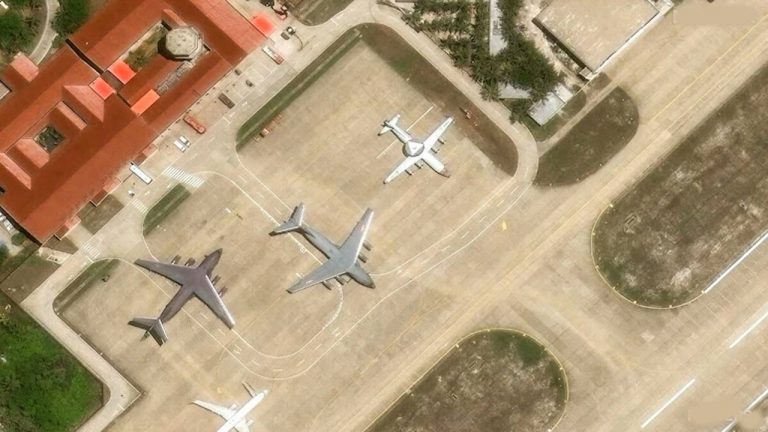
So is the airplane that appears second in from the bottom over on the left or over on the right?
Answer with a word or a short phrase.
left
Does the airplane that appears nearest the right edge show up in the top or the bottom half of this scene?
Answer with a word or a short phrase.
top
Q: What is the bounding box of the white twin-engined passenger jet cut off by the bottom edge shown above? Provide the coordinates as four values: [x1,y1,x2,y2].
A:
[191,391,268,432]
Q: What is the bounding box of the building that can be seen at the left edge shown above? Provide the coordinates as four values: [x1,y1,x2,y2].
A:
[0,0,272,244]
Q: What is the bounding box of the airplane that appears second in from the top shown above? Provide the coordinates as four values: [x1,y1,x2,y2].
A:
[271,202,375,296]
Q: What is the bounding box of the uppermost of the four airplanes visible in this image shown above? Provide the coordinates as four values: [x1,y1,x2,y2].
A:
[374,116,454,184]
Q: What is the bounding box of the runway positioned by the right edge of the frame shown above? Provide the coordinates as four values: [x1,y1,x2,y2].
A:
[552,230,768,432]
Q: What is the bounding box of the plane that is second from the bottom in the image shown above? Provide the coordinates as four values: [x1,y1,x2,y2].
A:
[124,250,232,347]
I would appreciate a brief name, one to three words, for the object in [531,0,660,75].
hangar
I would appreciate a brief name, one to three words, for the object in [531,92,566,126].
shed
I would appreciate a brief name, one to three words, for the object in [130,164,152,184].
bus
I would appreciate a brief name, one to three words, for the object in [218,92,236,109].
vehicle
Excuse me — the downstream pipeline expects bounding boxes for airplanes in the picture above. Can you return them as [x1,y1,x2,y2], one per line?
[191,391,268,432]
[124,250,232,347]
[271,202,375,296]
[374,116,454,184]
